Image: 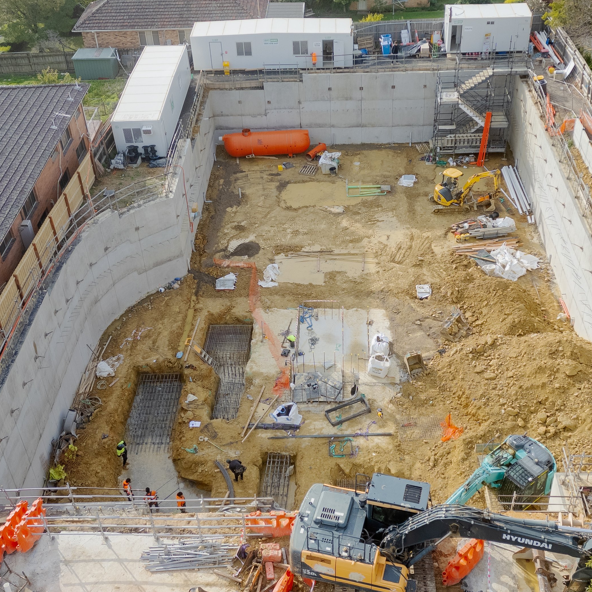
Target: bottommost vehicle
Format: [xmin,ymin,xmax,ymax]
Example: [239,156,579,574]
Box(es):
[296,474,592,592]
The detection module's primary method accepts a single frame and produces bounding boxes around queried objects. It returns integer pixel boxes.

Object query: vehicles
[296,474,592,592]
[430,426,554,510]
[424,169,500,214]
